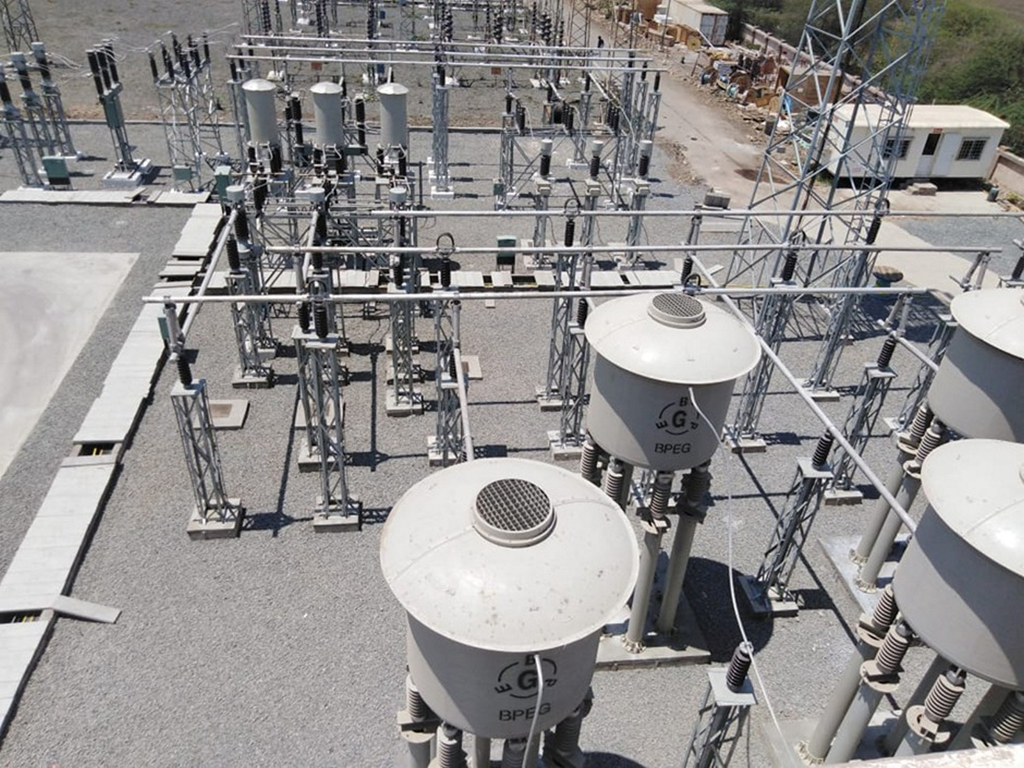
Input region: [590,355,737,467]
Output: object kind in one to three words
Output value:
storage tank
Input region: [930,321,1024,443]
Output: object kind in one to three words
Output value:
storage tank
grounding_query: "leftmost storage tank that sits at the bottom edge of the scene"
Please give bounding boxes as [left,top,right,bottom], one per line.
[408,614,603,733]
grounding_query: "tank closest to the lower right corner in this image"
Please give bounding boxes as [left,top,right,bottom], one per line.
[897,507,1024,684]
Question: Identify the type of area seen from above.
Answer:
industrial area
